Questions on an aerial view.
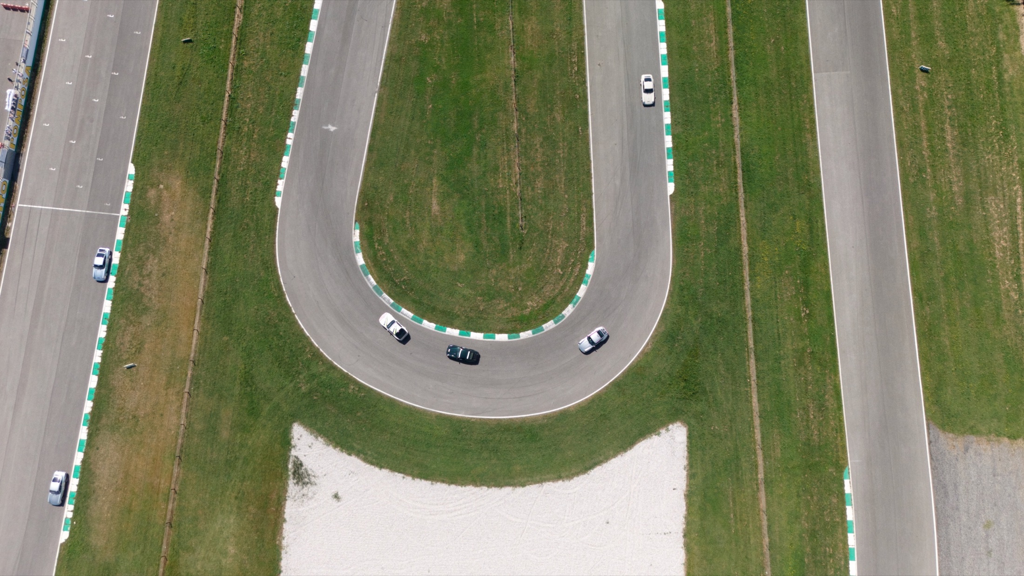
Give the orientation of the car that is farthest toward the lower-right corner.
on a diagonal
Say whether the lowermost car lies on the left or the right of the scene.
left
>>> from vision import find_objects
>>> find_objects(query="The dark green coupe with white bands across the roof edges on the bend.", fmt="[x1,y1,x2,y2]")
[447,346,480,363]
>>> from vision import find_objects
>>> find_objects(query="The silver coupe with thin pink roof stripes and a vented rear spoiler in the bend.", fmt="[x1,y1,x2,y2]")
[578,327,609,352]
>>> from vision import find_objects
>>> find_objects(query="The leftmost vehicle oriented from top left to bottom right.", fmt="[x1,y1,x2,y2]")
[380,312,408,342]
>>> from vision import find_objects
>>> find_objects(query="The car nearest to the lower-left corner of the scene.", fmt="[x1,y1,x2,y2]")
[48,470,69,506]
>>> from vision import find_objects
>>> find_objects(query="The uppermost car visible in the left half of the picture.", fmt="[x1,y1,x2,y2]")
[92,249,112,282]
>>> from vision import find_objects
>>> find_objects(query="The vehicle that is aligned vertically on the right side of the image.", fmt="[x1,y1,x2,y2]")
[640,75,655,105]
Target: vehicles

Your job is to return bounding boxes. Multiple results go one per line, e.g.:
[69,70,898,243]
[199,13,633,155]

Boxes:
[92,249,112,282]
[48,470,69,506]
[380,312,408,342]
[447,346,480,363]
[578,327,609,352]
[640,75,655,105]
